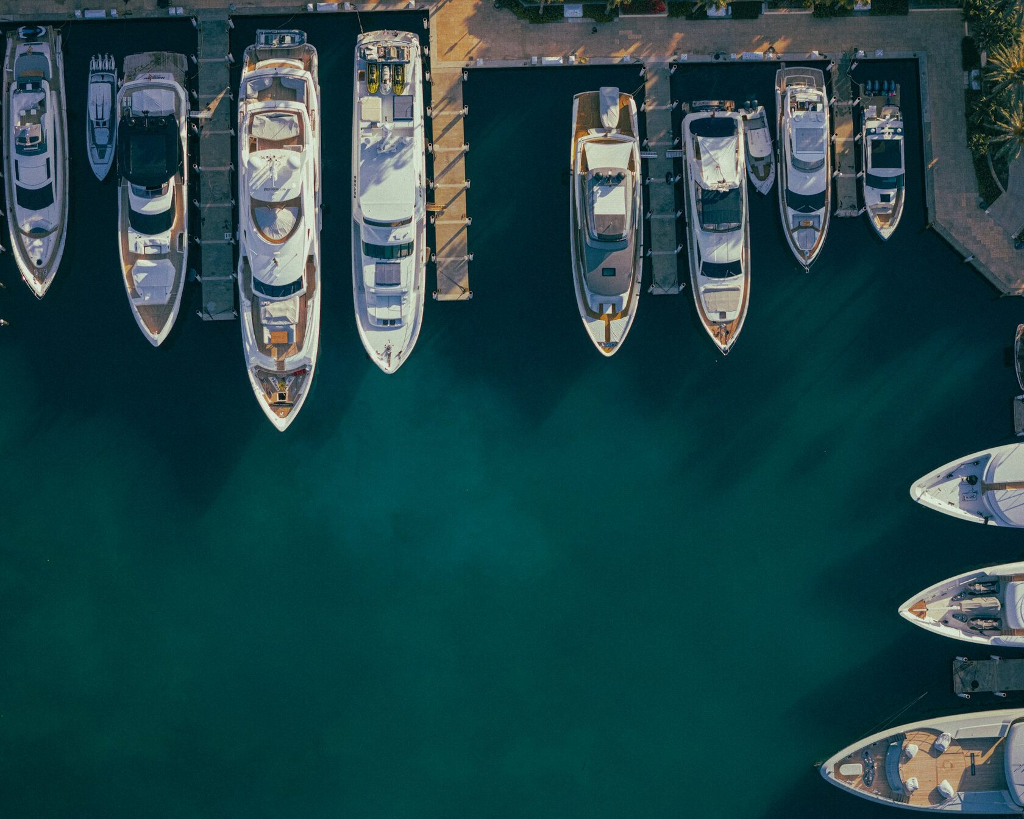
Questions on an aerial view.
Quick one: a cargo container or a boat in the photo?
boat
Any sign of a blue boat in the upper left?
Yes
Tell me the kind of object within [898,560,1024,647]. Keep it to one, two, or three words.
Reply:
boat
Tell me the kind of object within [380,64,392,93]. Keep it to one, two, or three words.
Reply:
boat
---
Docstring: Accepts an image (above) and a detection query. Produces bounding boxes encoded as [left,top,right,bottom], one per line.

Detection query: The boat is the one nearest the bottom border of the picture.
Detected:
[815,708,1024,814]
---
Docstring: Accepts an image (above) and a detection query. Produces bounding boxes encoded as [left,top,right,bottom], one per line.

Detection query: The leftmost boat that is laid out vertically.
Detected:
[3,26,70,298]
